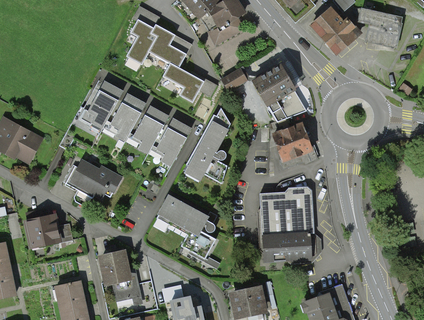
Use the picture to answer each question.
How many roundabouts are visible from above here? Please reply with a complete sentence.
Only 1 roundabout is visible.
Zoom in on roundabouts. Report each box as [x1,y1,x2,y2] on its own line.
[322,81,391,150]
